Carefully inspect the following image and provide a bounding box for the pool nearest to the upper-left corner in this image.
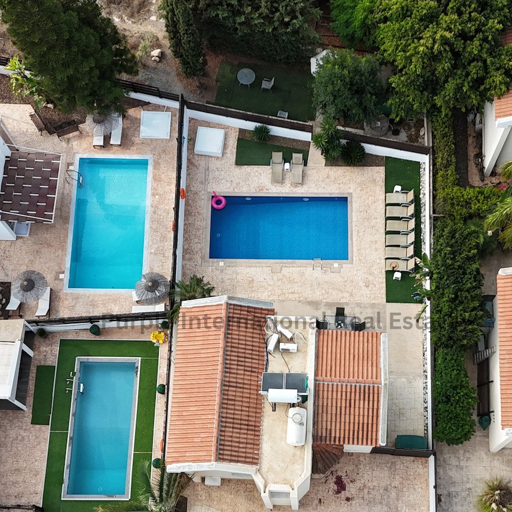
[58,154,156,293]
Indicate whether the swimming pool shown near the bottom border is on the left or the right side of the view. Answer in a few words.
left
